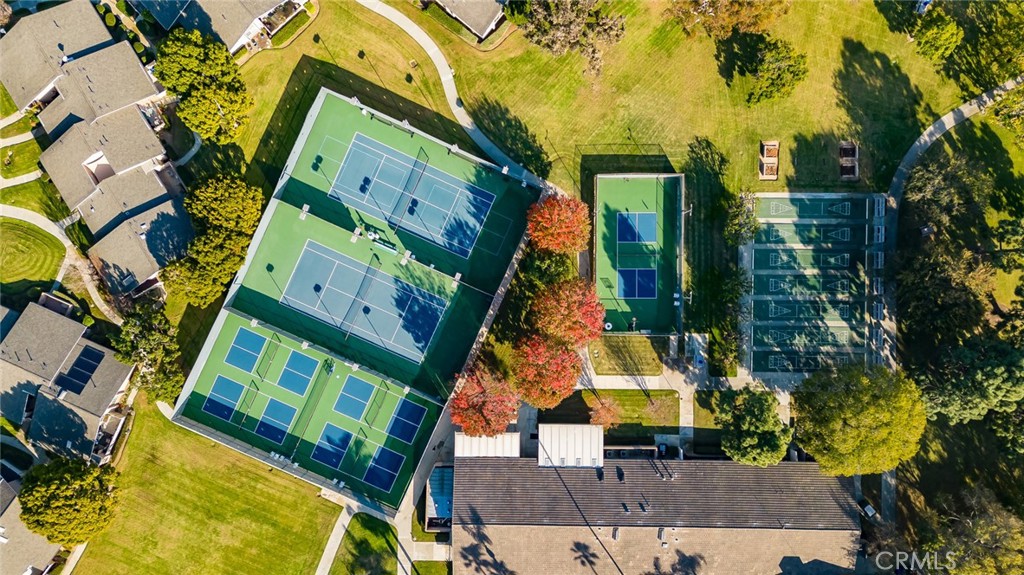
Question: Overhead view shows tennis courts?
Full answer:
Yes, a tennis court appears in the view.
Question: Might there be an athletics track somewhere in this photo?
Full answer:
No, there is no athletics track in the image.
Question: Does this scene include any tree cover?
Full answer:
Yes, there is tree cover in the image.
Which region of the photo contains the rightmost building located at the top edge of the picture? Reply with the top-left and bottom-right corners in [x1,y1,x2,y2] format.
[434,0,508,44]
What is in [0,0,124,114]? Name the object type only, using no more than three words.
house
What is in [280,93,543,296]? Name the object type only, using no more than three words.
tennis court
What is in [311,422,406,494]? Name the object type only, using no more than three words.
sports court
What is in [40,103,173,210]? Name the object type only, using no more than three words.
house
